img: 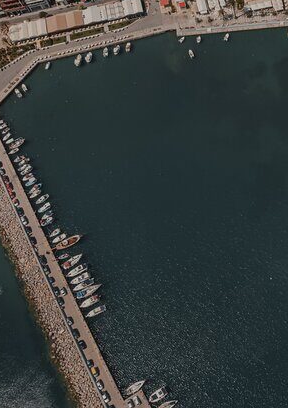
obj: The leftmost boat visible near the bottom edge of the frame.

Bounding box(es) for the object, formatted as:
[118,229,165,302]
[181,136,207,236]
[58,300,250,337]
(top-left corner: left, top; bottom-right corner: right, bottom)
[125,380,145,396]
